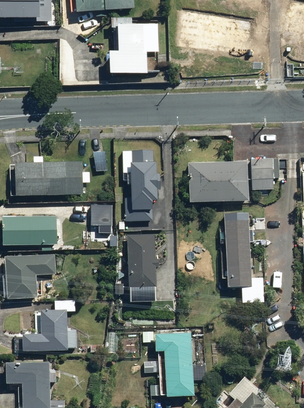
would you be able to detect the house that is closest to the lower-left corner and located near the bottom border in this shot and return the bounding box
[6,362,64,408]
